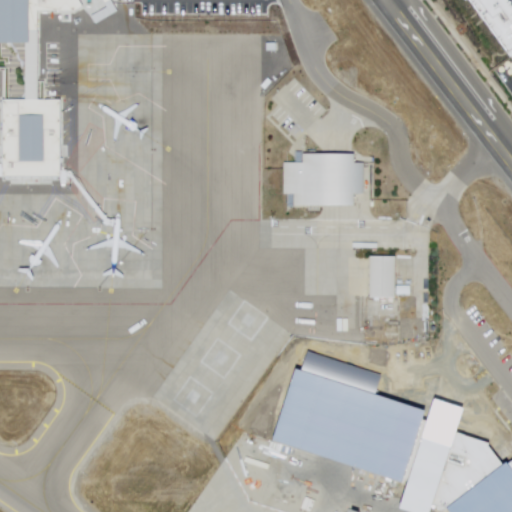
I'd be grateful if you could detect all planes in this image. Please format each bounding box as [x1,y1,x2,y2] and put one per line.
[18,222,61,280]
[99,104,150,141]
[86,214,143,277]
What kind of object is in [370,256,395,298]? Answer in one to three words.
building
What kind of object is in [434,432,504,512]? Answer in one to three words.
building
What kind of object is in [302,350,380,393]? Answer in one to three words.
hangar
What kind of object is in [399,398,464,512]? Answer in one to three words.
hangar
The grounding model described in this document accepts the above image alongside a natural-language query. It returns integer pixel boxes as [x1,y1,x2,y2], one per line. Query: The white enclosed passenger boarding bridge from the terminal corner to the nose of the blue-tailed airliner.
[61,170,114,224]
